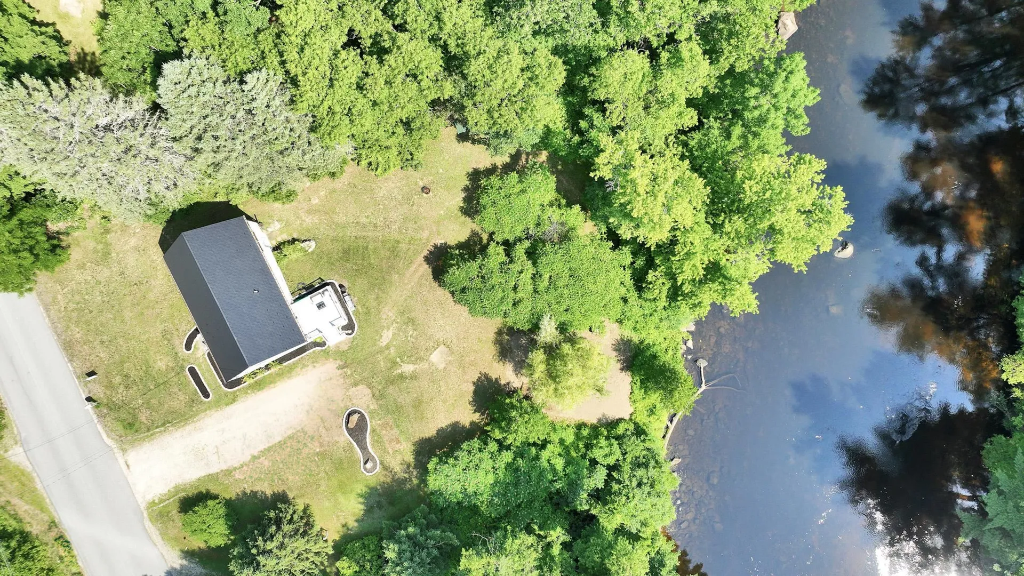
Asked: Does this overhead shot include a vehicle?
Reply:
No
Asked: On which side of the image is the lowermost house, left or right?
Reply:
left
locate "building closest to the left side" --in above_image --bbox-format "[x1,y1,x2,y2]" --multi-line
[161,215,315,382]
